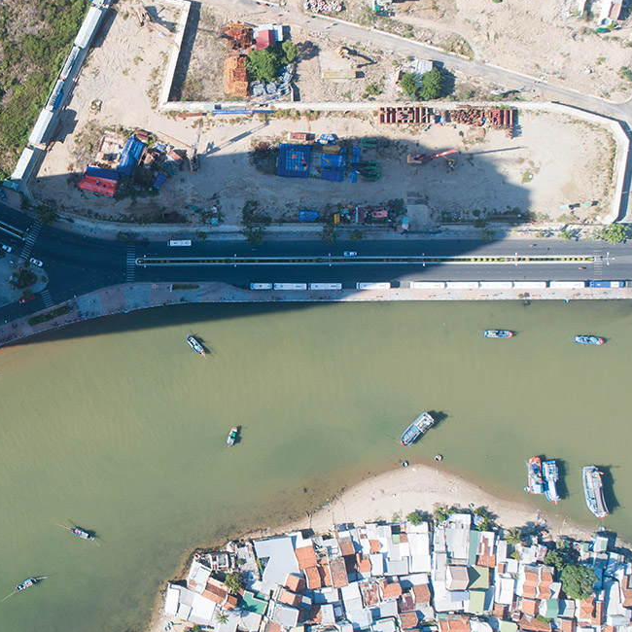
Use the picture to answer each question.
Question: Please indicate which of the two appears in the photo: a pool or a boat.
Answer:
boat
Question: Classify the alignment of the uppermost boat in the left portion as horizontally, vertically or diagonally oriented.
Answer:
diagonally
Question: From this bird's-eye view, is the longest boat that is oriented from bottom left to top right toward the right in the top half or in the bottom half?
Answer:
bottom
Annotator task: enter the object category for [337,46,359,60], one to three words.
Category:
work vehicle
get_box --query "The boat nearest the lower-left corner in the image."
[5,574,49,593]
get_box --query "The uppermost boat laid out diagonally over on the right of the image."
[400,411,435,445]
